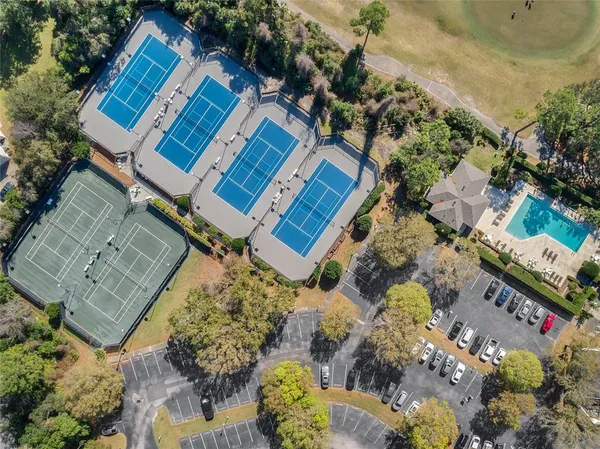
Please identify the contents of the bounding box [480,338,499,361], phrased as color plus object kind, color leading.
white vehicle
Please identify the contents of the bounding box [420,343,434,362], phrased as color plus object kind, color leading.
white vehicle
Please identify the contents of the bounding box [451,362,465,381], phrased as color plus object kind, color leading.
white car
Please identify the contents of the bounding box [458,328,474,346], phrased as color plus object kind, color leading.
white car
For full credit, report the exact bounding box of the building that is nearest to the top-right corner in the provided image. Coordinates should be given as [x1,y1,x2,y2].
[422,161,490,233]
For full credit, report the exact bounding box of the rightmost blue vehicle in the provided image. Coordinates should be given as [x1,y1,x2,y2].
[496,287,511,305]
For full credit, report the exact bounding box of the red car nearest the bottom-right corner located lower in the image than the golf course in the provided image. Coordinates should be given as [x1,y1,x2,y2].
[540,314,555,332]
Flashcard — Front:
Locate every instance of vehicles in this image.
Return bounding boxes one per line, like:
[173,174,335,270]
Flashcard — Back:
[506,293,521,312]
[458,328,474,346]
[0,181,12,199]
[490,348,506,366]
[484,280,499,298]
[468,433,481,449]
[415,336,424,347]
[482,437,494,449]
[529,305,546,324]
[480,338,499,361]
[346,369,355,388]
[448,321,463,339]
[393,391,407,410]
[540,314,555,332]
[420,343,434,362]
[451,362,465,381]
[430,349,444,368]
[517,300,533,318]
[404,399,418,417]
[427,309,442,328]
[469,335,485,353]
[496,287,511,305]
[382,383,396,403]
[321,366,329,385]
[441,355,455,374]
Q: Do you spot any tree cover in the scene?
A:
Yes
